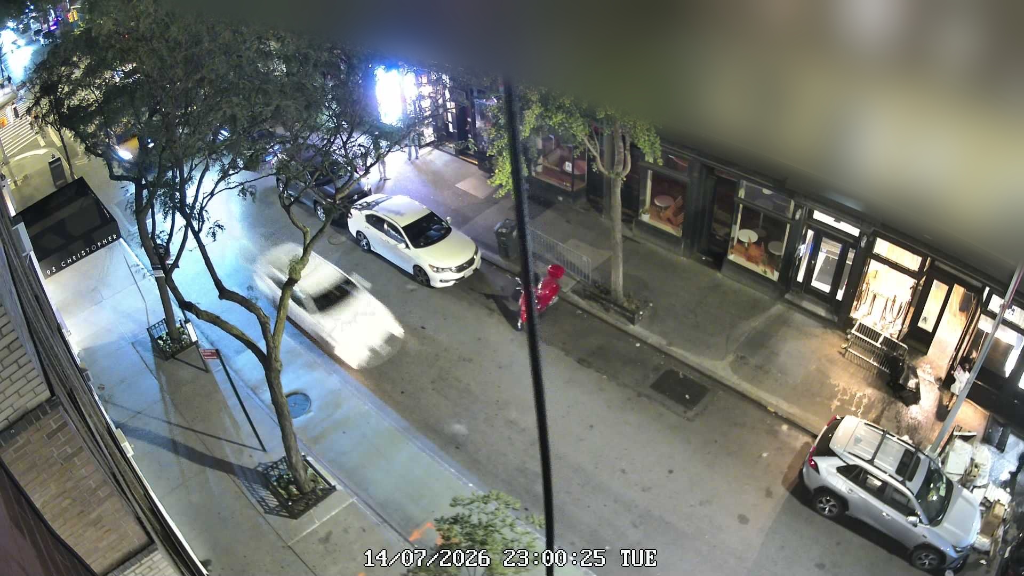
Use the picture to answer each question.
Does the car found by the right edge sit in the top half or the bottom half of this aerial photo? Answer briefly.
bottom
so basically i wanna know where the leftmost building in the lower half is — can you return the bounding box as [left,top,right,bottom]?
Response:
[0,124,205,576]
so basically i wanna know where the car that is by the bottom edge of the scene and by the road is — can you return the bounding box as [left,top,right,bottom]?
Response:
[802,412,995,571]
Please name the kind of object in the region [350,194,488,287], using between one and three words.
car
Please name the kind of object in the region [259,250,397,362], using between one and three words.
car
